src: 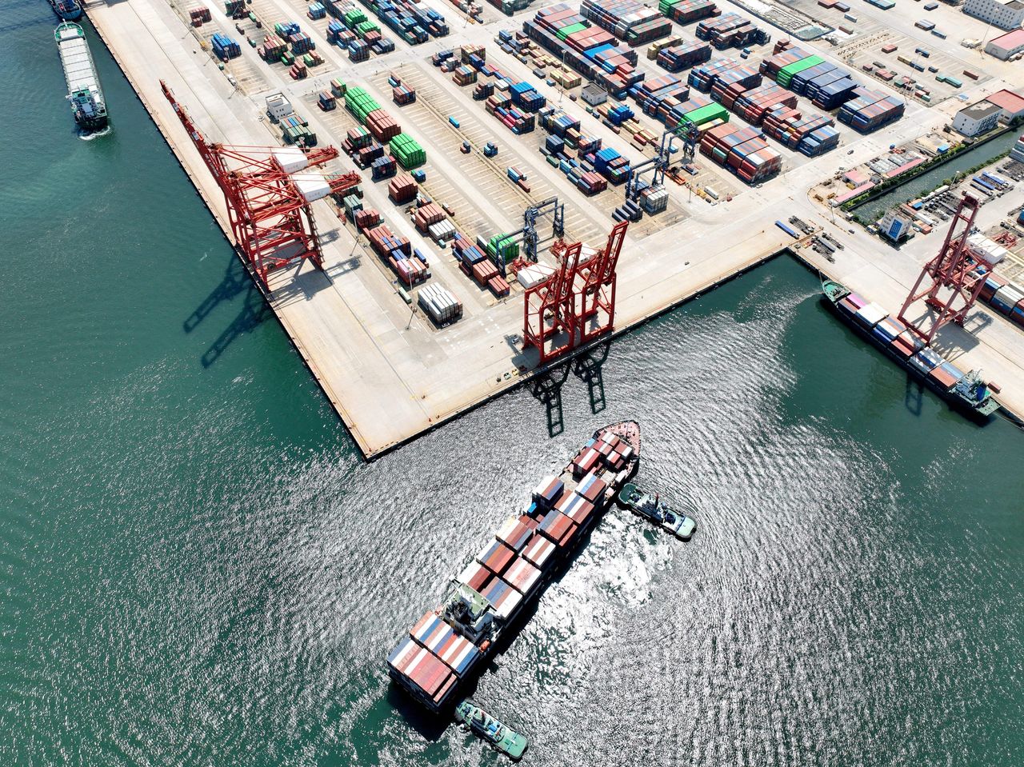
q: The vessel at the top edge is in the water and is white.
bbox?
[56,8,109,128]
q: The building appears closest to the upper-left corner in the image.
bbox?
[264,91,296,123]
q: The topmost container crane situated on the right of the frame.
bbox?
[659,119,697,164]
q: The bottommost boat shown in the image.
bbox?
[452,697,529,760]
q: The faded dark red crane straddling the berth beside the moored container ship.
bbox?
[893,199,1009,345]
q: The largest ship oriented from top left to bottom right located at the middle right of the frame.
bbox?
[815,273,1023,435]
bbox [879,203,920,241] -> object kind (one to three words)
building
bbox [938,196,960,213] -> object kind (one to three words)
vehicle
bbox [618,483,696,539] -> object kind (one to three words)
boat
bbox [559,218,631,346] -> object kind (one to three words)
container crane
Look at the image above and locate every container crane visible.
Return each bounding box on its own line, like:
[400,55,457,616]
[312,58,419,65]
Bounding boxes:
[893,199,1009,345]
[659,119,697,164]
[515,239,583,367]
[559,218,631,346]
[159,74,340,265]
[625,156,665,203]
[525,196,564,243]
[495,226,535,276]
[178,101,361,296]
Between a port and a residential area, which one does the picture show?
port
